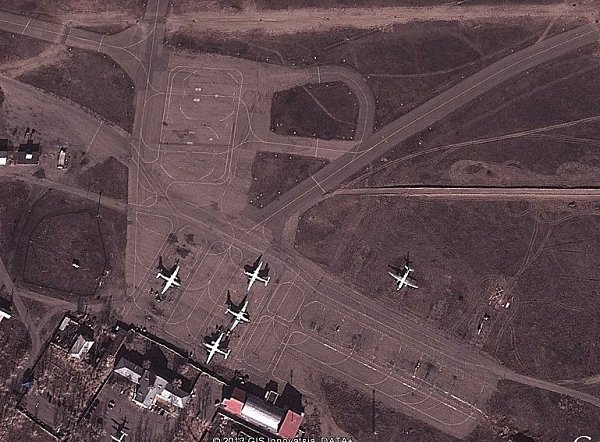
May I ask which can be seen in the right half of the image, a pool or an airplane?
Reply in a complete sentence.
What appears in the right half of the image is an airplane.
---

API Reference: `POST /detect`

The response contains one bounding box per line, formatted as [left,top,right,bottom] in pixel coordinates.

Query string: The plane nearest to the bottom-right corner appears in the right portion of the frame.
[388,264,420,290]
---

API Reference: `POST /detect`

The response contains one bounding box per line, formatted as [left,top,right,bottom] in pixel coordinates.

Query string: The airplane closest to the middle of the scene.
[244,261,271,292]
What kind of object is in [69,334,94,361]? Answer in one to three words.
house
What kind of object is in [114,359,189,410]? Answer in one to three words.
building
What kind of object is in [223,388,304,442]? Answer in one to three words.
building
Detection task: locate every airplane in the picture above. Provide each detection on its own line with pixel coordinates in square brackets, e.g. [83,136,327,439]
[388,264,420,290]
[154,264,180,295]
[204,334,231,364]
[223,301,250,332]
[109,432,127,442]
[244,261,271,292]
